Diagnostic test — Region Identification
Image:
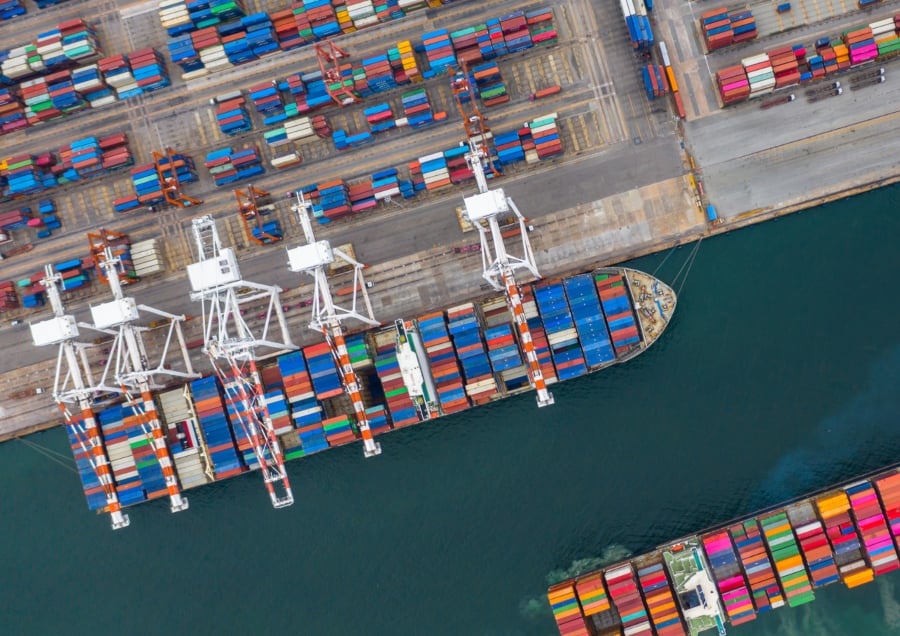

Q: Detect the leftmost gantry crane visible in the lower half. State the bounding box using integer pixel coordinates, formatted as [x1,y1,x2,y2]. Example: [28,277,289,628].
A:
[25,264,143,529]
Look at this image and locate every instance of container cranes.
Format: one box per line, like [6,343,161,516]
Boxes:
[232,184,283,248]
[85,246,209,512]
[455,141,554,406]
[149,143,204,208]
[84,227,142,289]
[464,117,505,184]
[25,264,143,529]
[280,191,389,456]
[179,208,301,507]
[445,59,489,129]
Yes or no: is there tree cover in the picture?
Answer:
No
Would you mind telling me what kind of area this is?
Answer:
port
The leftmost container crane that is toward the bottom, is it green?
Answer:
No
